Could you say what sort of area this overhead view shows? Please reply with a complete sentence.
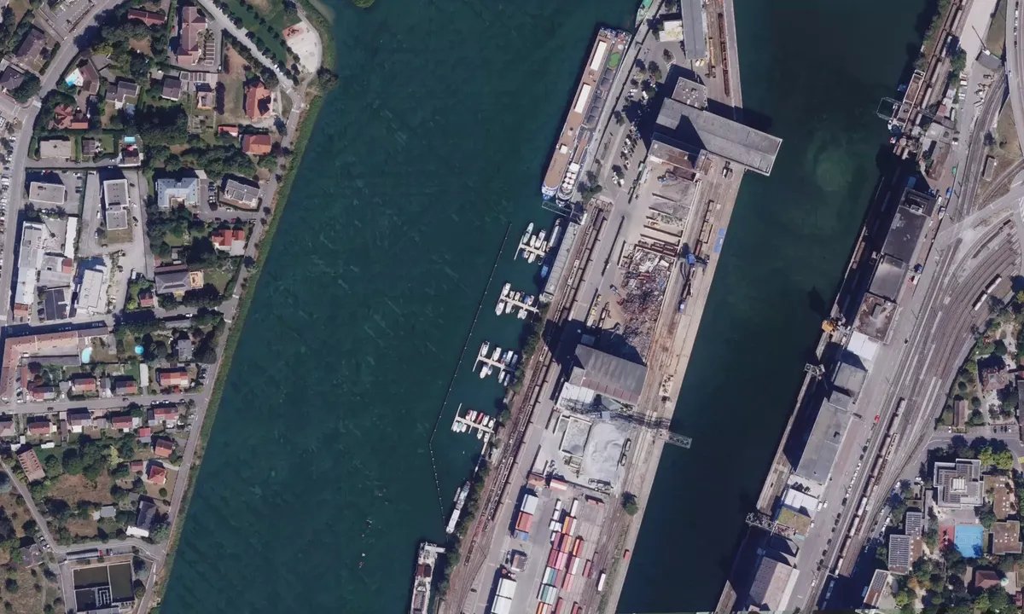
The area seen from above is a port.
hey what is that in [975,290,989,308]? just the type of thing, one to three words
rail car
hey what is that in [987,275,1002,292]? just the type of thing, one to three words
rail car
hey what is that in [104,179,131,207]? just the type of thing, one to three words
building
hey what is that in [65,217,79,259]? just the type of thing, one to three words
shed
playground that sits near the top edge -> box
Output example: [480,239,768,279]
[287,21,320,71]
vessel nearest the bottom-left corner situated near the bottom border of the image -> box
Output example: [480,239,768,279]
[412,542,437,614]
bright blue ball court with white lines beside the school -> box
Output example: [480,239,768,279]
[955,525,983,558]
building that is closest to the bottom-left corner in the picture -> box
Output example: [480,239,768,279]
[20,544,44,567]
